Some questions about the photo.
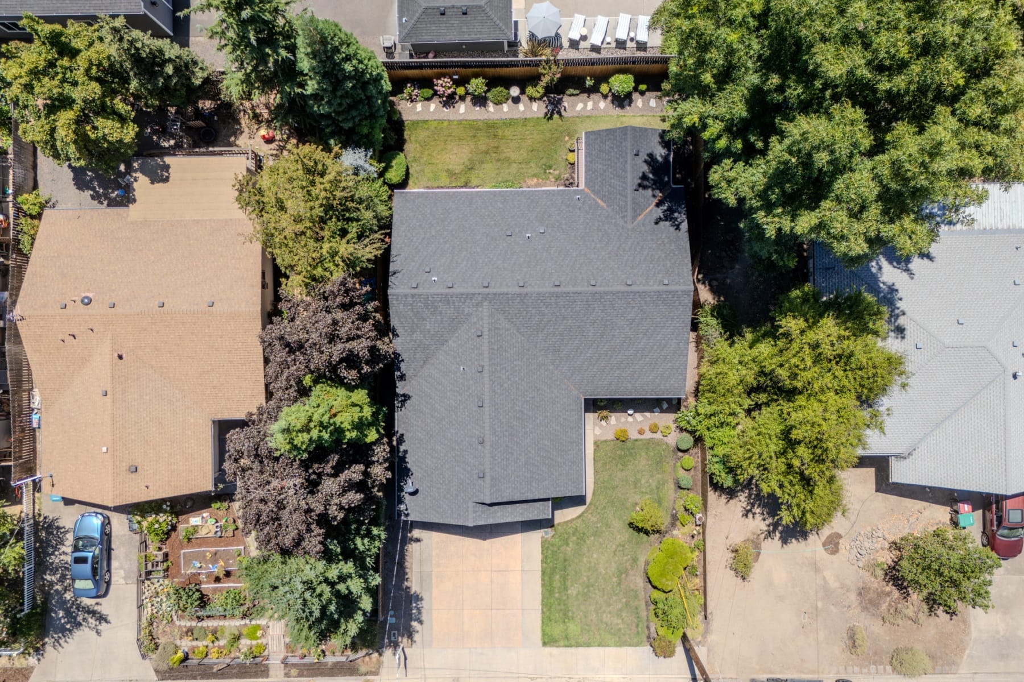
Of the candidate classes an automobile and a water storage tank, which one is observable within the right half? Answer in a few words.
automobile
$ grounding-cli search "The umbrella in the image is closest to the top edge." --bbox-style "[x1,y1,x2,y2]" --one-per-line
[526,4,563,42]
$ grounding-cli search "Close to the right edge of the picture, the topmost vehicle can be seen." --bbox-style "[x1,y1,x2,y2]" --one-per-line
[984,490,1024,557]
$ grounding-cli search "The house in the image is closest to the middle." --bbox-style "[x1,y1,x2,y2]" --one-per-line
[386,126,695,527]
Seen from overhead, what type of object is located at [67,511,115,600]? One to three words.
car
